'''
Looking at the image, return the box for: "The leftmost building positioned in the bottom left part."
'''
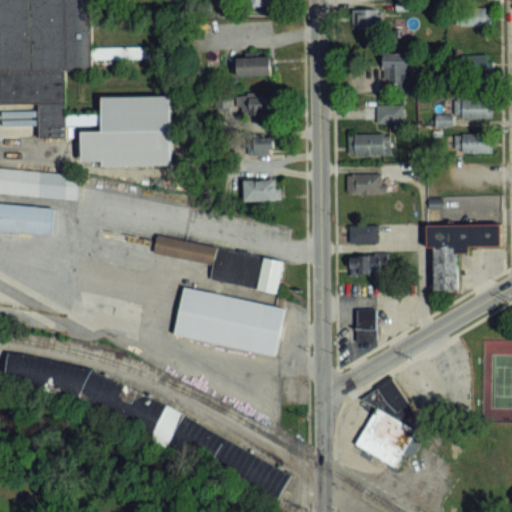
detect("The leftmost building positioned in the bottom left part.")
[2,351,94,396]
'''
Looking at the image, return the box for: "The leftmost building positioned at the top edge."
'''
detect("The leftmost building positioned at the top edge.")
[0,0,92,138]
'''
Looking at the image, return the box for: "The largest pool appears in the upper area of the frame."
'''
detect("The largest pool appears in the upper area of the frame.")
[407,16,422,30]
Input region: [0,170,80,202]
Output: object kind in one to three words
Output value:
shed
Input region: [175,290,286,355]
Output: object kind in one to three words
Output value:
building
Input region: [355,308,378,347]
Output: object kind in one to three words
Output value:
building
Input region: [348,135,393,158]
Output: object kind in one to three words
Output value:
house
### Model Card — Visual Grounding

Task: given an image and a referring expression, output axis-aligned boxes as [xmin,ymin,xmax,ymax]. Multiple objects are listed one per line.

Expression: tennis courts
[484,341,512,422]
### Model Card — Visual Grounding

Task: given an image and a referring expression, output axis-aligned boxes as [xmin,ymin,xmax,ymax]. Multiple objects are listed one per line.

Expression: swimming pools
[407,16,422,30]
[434,104,446,114]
